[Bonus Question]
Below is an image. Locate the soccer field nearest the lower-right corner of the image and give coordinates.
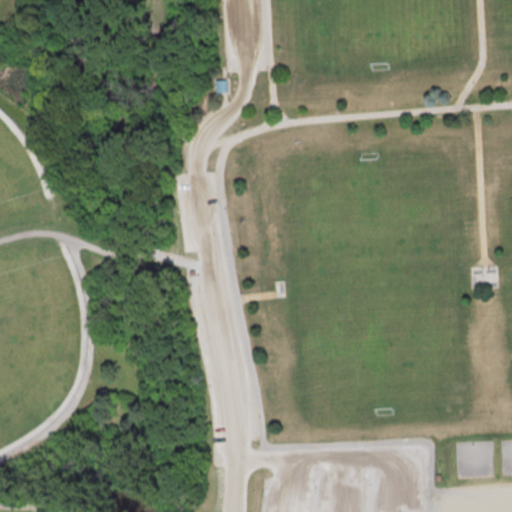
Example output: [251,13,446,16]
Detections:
[282,151,474,428]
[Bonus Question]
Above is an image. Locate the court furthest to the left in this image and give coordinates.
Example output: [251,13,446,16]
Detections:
[456,442,494,479]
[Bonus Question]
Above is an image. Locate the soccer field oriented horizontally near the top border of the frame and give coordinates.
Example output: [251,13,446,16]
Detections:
[270,0,474,86]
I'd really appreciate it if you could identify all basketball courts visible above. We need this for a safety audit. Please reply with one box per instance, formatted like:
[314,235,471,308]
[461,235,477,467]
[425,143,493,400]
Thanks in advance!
[502,441,512,476]
[456,442,494,479]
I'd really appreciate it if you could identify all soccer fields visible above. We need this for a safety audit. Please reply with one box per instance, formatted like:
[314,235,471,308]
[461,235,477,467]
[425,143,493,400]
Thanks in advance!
[270,0,474,86]
[282,151,474,428]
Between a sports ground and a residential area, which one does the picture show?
sports ground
